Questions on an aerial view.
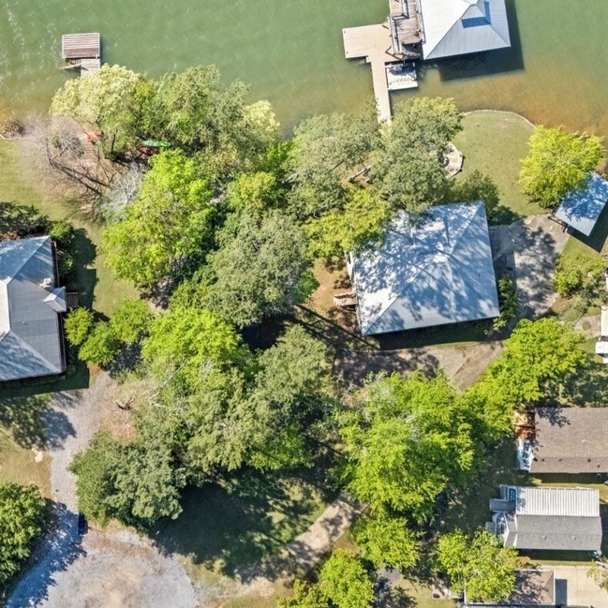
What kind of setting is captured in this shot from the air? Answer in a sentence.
What you see here is a residential area.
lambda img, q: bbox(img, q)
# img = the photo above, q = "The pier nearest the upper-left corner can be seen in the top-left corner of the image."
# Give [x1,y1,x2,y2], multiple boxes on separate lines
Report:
[61,32,101,114]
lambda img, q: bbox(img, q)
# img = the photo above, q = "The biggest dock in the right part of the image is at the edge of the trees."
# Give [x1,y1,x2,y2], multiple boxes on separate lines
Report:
[340,23,405,128]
